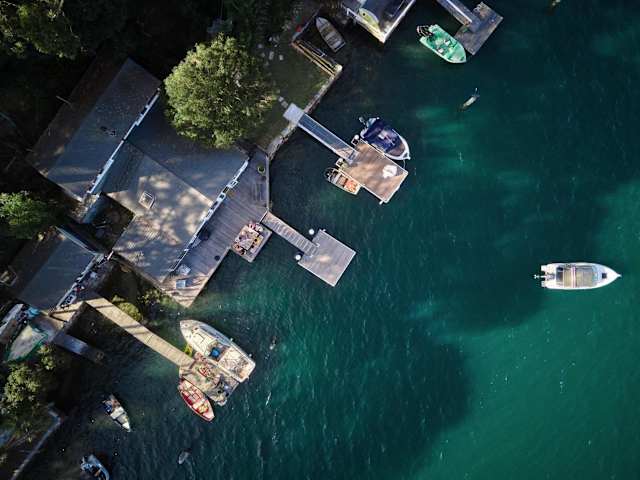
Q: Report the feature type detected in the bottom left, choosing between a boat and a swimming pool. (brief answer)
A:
boat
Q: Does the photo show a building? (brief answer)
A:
Yes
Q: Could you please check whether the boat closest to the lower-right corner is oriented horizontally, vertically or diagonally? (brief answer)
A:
horizontally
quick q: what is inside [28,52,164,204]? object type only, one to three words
house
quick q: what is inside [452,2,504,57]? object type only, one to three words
pier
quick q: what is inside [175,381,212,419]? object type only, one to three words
boat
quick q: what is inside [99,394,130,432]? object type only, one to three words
boat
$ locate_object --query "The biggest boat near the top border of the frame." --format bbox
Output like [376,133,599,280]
[414,23,469,64]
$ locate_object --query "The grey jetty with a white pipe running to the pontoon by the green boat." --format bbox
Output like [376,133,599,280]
[435,0,481,32]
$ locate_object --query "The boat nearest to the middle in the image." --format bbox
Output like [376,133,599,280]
[322,166,359,194]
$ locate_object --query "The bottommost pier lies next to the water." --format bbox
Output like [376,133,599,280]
[178,353,241,405]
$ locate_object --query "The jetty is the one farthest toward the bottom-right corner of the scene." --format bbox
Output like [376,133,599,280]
[298,229,357,288]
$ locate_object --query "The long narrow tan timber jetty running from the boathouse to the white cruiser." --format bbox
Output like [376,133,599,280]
[76,293,194,367]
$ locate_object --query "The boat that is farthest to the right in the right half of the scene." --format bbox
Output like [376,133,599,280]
[529,262,625,290]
